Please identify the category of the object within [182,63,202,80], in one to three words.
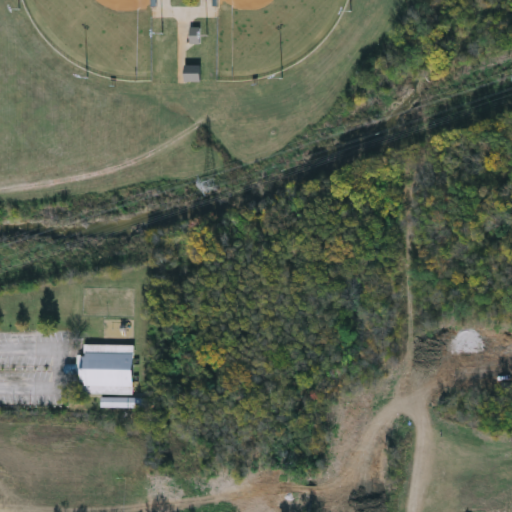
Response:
building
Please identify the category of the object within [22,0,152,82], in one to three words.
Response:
baseball field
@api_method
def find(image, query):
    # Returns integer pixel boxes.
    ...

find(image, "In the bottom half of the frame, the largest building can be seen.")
[77,345,136,396]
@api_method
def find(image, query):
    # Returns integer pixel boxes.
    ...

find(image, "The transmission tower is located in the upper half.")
[196,174,222,196]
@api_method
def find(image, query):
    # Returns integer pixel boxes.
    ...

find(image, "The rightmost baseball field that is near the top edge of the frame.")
[218,0,348,82]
